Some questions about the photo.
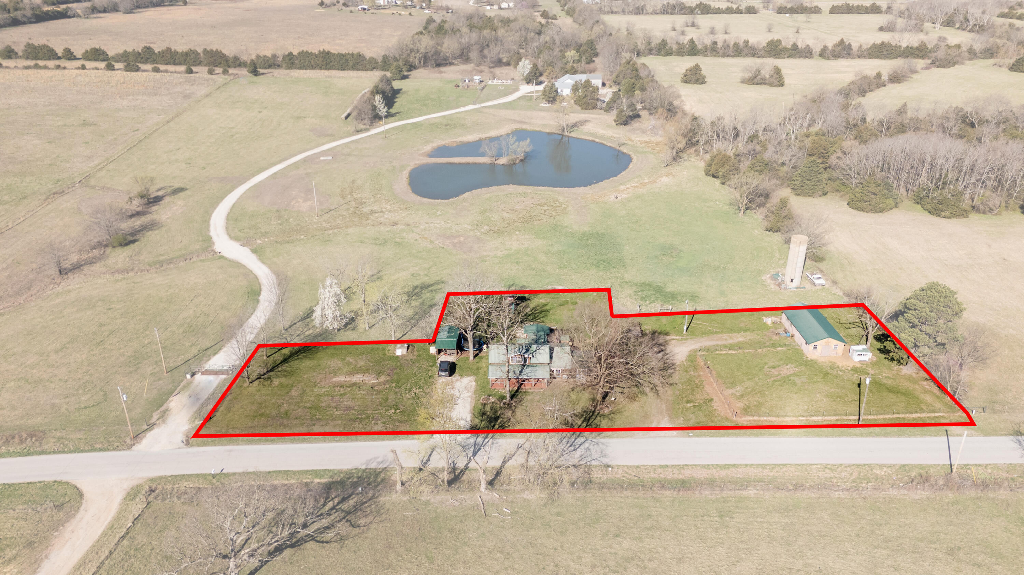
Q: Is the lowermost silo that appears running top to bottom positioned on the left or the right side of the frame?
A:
right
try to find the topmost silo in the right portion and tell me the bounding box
[784,234,807,285]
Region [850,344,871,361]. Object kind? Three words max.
shed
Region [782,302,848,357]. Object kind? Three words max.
barn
